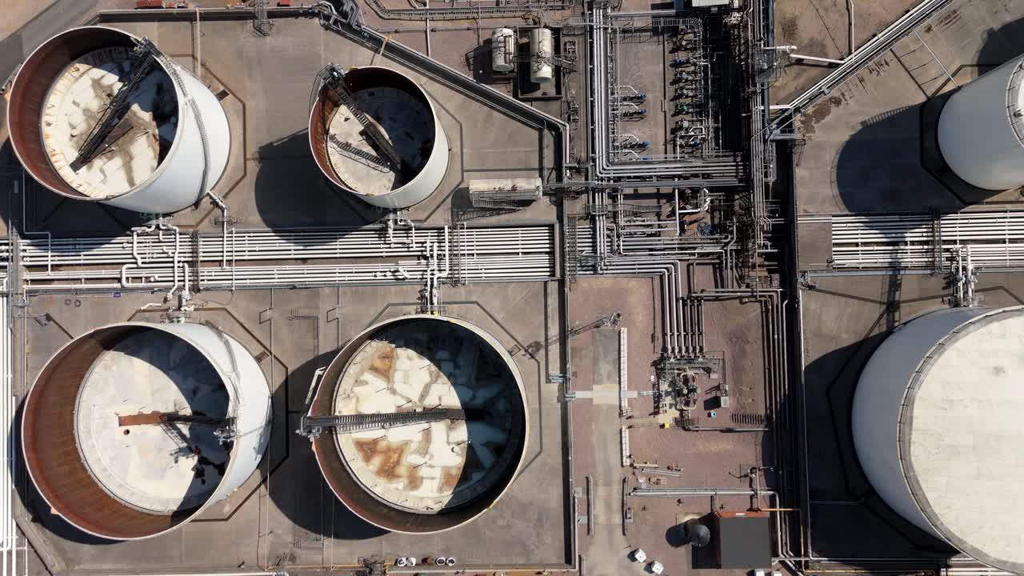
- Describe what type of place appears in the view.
industrial area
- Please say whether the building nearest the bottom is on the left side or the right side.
right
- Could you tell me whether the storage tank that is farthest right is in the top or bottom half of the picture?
top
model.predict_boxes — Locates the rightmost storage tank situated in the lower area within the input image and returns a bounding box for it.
[849,305,1024,576]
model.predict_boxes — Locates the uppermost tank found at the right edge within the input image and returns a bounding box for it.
[937,51,1024,191]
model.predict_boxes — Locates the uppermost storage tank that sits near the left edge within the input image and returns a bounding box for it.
[6,26,233,214]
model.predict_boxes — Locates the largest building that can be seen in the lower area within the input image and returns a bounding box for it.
[714,507,771,569]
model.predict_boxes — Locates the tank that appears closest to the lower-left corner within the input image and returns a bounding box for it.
[21,319,273,540]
